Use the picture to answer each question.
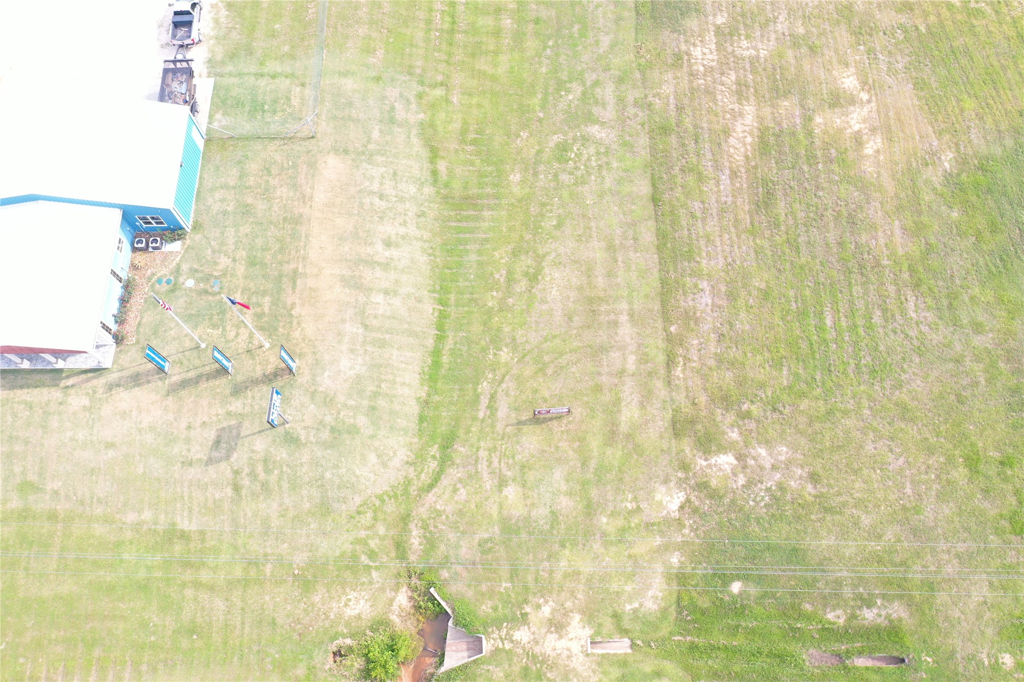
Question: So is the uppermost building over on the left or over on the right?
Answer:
left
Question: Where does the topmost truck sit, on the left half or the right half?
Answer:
left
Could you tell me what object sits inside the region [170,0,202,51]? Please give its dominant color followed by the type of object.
white truck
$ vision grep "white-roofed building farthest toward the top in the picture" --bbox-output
[0,90,206,237]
